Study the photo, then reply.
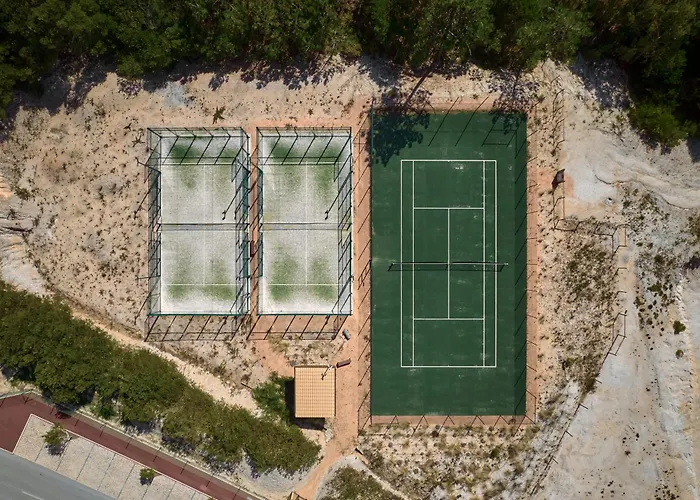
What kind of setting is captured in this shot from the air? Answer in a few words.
sports ground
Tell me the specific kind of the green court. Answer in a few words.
tennis court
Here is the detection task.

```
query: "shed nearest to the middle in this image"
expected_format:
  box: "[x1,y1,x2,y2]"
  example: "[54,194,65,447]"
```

[295,365,336,417]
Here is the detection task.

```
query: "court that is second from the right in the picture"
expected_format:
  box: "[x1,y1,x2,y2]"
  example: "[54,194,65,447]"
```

[255,127,353,317]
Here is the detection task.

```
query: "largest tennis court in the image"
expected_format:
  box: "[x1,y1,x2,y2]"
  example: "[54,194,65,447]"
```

[362,109,537,425]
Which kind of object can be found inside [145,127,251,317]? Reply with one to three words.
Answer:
sports court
